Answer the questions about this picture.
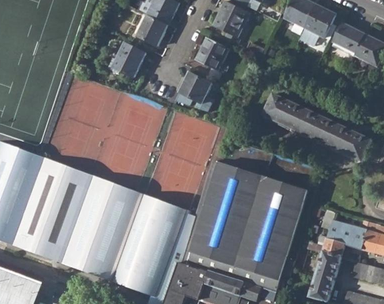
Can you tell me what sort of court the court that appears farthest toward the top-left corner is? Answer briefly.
tennis court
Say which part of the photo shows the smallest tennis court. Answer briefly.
center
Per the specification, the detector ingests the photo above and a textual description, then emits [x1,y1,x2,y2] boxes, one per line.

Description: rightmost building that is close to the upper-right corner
[332,22,384,67]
